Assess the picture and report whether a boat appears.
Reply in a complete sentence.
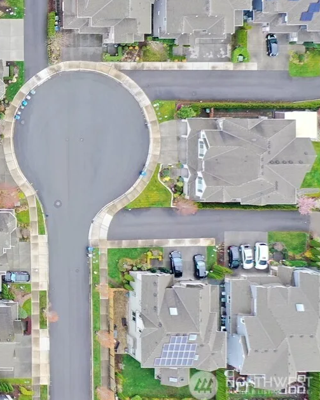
No, there's no boat here.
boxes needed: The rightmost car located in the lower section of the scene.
[255,241,268,268]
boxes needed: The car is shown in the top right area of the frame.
[265,33,279,56]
